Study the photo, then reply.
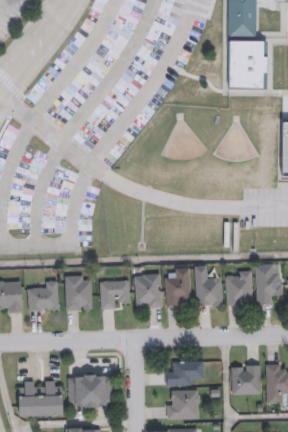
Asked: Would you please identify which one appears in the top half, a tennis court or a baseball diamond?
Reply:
baseball diamond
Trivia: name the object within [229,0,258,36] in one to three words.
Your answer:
building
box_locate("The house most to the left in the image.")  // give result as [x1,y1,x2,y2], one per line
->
[0,282,22,312]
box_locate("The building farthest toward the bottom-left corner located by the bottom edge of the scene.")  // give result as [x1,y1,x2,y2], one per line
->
[18,382,64,419]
